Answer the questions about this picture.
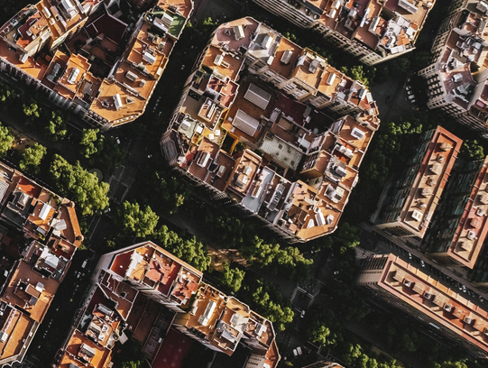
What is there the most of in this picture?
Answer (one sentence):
The largest share of the image is taken up by buildings.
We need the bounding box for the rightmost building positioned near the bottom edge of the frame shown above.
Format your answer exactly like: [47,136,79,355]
[354,253,488,362]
